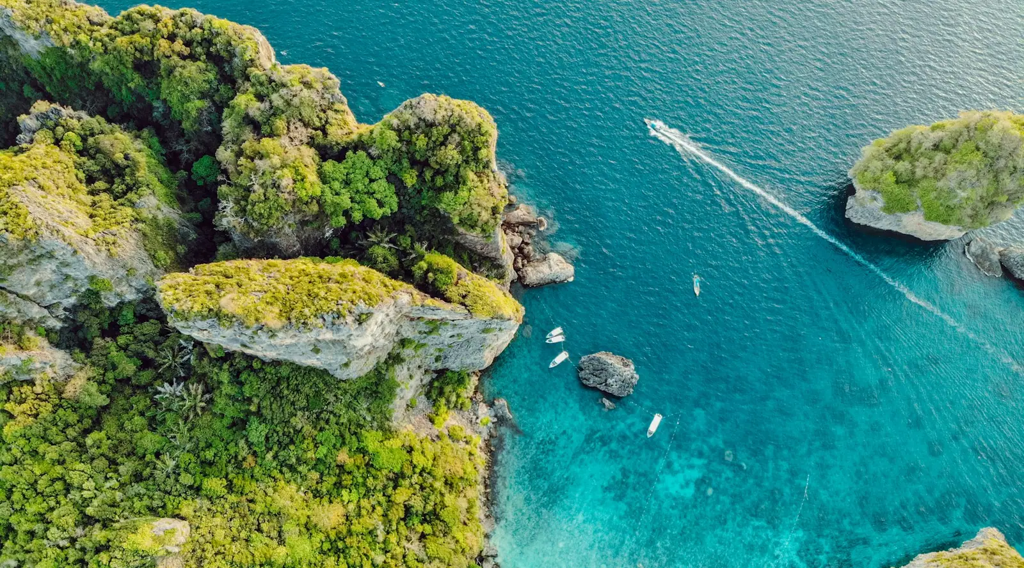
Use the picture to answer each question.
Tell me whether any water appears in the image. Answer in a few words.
Yes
